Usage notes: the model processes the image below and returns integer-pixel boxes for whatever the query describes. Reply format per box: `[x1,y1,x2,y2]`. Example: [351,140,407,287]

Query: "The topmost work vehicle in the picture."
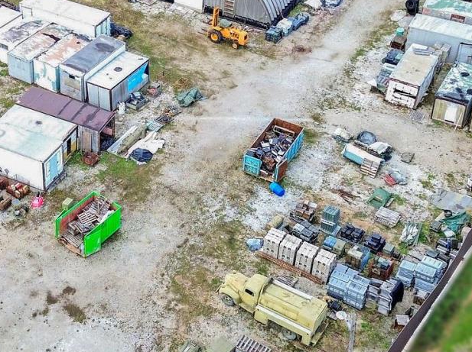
[198,5,252,48]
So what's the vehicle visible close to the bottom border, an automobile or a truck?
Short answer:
truck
